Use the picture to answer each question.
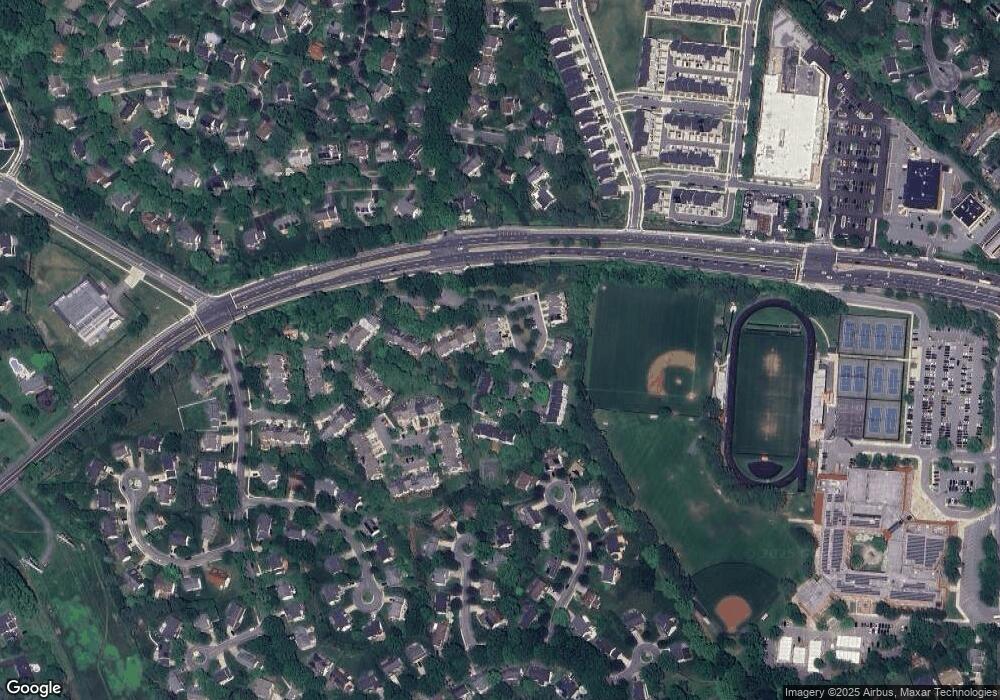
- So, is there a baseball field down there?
Yes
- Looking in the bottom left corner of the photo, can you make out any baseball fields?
No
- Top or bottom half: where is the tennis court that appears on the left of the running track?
bottom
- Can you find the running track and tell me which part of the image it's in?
right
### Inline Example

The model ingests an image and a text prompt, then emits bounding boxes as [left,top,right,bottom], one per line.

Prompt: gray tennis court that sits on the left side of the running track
[479,457,500,483]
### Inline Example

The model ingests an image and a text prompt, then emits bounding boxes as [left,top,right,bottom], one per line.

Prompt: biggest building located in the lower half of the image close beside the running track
[801,467,957,615]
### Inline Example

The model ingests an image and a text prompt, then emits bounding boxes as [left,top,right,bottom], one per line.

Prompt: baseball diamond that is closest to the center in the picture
[590,287,718,418]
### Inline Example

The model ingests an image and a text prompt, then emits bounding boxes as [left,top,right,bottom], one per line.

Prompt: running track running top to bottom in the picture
[725,296,816,491]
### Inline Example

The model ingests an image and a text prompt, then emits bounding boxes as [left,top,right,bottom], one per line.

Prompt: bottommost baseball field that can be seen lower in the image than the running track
[691,562,780,638]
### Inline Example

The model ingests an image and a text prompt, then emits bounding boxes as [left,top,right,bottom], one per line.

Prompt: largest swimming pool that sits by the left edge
[10,357,35,379]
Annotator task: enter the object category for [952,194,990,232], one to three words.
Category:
building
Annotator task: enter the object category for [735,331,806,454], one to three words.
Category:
soccer field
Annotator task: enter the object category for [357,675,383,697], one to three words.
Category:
house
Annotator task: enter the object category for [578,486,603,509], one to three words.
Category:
house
